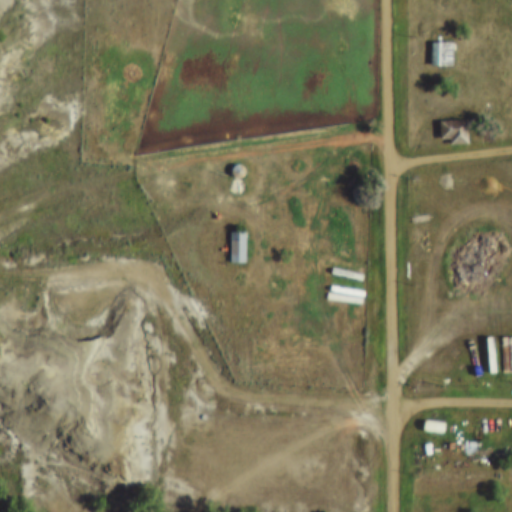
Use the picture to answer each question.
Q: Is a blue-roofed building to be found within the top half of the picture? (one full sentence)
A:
No, there is no blue-roofed building within the top half of the picture.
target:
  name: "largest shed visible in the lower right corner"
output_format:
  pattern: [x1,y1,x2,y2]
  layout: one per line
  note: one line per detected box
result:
[424,420,448,435]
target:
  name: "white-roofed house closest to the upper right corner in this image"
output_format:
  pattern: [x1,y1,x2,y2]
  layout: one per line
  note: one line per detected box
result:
[434,36,458,66]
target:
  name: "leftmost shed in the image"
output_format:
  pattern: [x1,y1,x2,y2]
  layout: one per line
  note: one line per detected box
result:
[230,232,247,262]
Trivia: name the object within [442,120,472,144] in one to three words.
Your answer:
house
